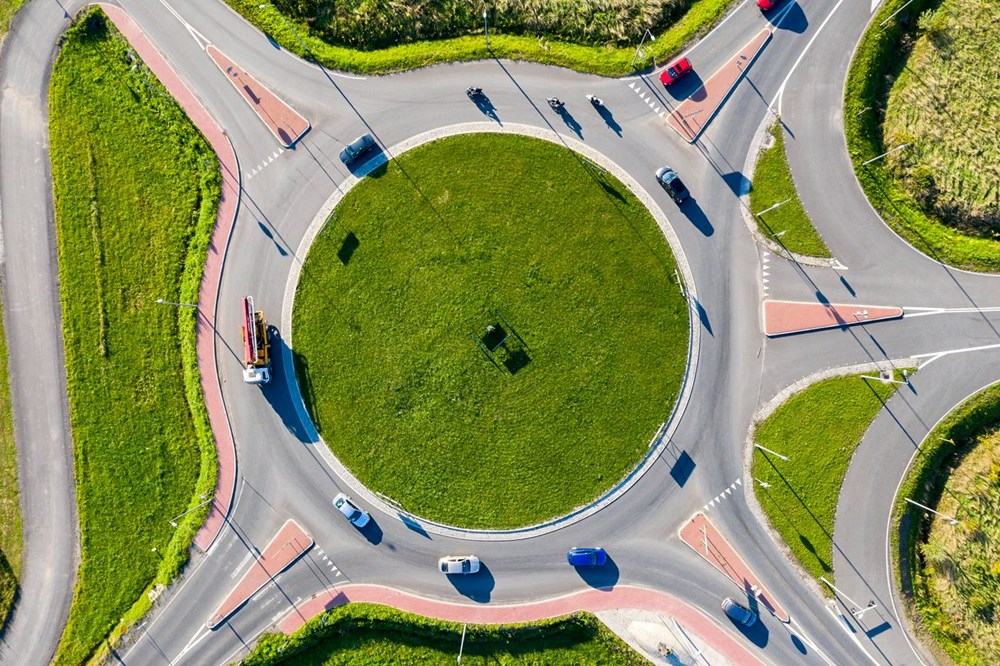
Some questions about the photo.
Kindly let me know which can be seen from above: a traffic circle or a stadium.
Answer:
traffic circle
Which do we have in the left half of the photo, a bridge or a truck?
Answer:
truck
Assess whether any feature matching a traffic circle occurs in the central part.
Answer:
Yes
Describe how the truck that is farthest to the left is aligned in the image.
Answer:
up and down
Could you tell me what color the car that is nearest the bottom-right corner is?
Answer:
blue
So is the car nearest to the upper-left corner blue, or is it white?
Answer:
blue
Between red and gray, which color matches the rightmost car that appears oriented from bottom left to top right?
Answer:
red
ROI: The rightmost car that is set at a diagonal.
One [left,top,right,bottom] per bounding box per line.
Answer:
[722,595,755,626]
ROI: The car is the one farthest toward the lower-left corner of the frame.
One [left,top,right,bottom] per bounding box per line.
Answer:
[333,491,370,525]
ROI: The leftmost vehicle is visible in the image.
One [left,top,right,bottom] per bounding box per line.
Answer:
[242,302,274,384]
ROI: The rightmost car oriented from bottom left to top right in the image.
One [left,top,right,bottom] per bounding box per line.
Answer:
[658,58,694,87]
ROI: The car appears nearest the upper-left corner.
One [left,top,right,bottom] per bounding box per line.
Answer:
[338,133,375,166]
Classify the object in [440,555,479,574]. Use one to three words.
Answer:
car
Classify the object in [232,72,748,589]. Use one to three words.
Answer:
roundabout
